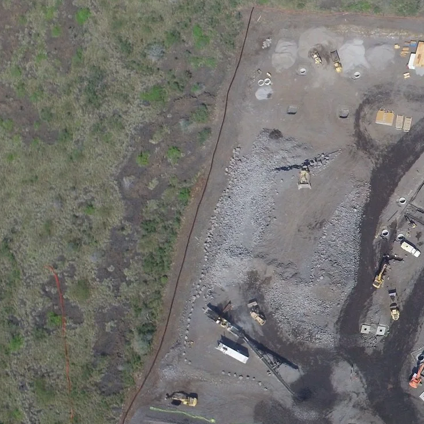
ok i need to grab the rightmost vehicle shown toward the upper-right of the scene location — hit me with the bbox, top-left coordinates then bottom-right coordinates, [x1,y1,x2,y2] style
[327,48,342,71]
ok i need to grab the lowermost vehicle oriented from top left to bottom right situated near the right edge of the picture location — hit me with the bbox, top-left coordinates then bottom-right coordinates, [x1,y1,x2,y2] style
[398,239,421,258]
